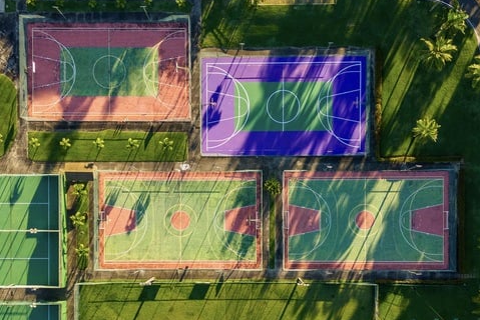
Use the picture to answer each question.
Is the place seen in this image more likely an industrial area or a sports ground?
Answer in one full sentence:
This image shows a sports ground.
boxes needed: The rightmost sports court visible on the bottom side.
[283,170,457,272]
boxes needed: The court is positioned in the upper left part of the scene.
[19,15,193,122]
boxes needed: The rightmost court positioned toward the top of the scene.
[200,52,374,157]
